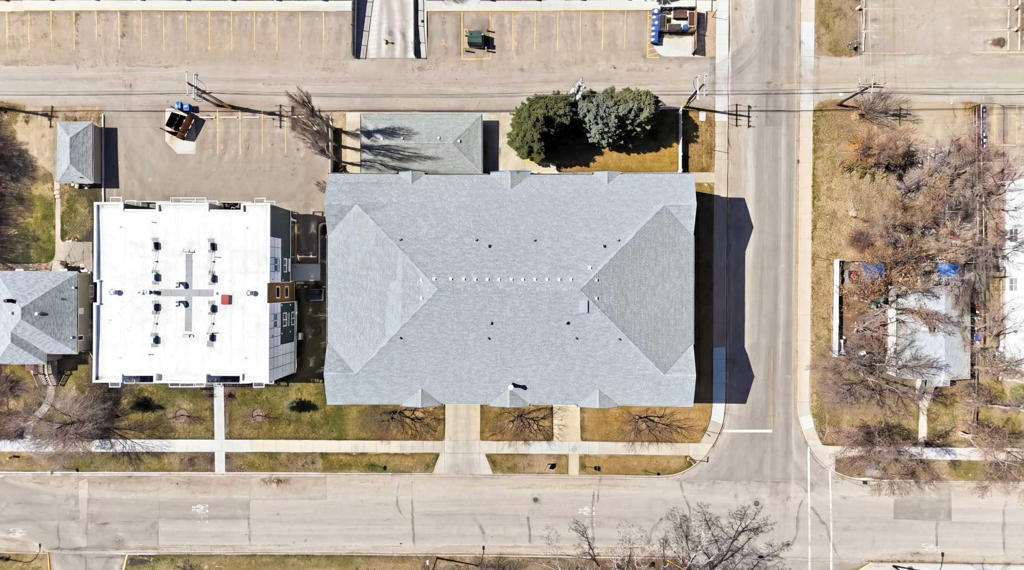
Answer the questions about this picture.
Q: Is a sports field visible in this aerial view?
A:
No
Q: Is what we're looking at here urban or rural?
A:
urban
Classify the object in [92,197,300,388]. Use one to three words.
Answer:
building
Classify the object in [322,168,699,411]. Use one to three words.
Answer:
building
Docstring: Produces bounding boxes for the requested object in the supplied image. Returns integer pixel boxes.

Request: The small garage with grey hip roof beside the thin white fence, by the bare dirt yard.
[57,121,101,183]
